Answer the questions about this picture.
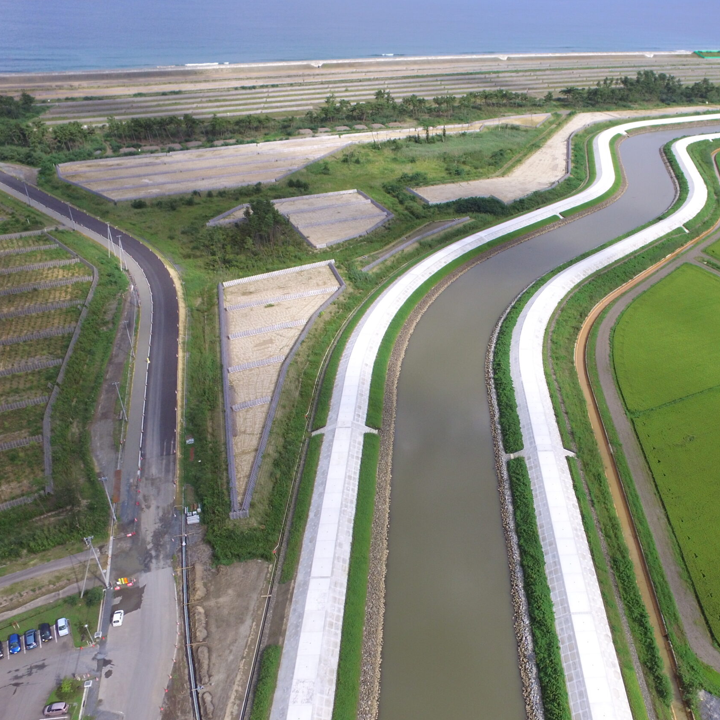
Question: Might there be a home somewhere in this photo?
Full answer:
No, I find no home anywhere in the image.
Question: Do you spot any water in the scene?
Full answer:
Yes, there's water in this view.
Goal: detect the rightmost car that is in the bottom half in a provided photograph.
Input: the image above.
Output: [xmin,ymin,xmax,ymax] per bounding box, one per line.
[112,607,125,625]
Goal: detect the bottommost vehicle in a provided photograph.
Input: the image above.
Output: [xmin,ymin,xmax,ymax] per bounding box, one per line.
[39,701,71,718]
